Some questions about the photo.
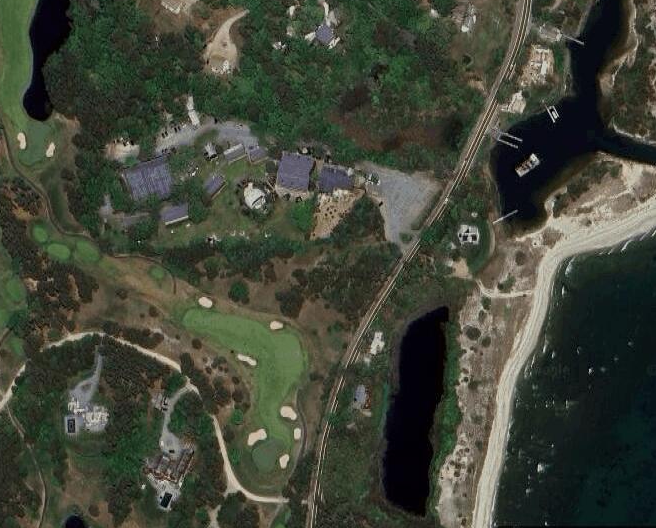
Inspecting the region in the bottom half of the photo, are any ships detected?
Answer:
No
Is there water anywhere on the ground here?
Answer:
Yes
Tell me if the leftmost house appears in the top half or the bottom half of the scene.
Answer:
bottom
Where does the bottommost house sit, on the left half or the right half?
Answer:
left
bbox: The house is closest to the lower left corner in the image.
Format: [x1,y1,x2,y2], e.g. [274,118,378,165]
[65,397,109,433]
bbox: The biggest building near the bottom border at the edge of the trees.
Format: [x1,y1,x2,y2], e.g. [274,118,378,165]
[142,449,198,511]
